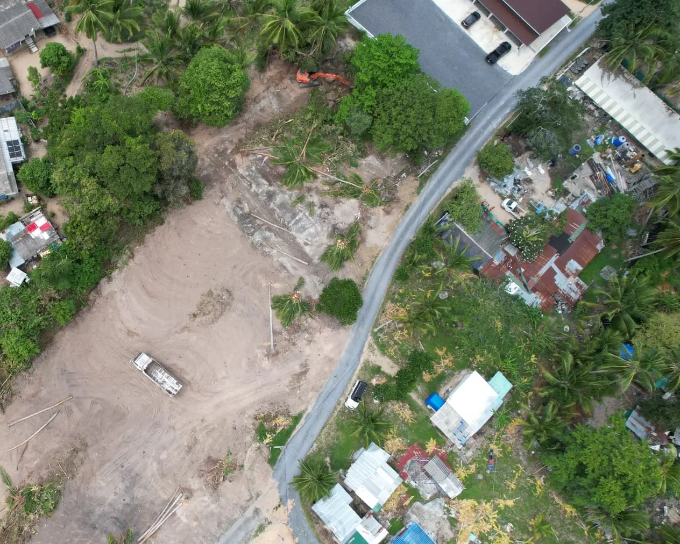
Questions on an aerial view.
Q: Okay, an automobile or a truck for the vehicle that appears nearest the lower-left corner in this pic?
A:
truck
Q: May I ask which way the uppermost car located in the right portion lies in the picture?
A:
on a diagonal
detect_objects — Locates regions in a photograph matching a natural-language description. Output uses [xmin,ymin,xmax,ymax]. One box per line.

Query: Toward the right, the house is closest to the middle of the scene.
[435,206,510,271]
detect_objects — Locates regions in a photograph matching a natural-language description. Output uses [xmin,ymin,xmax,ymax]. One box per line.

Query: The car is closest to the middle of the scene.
[345,381,369,411]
